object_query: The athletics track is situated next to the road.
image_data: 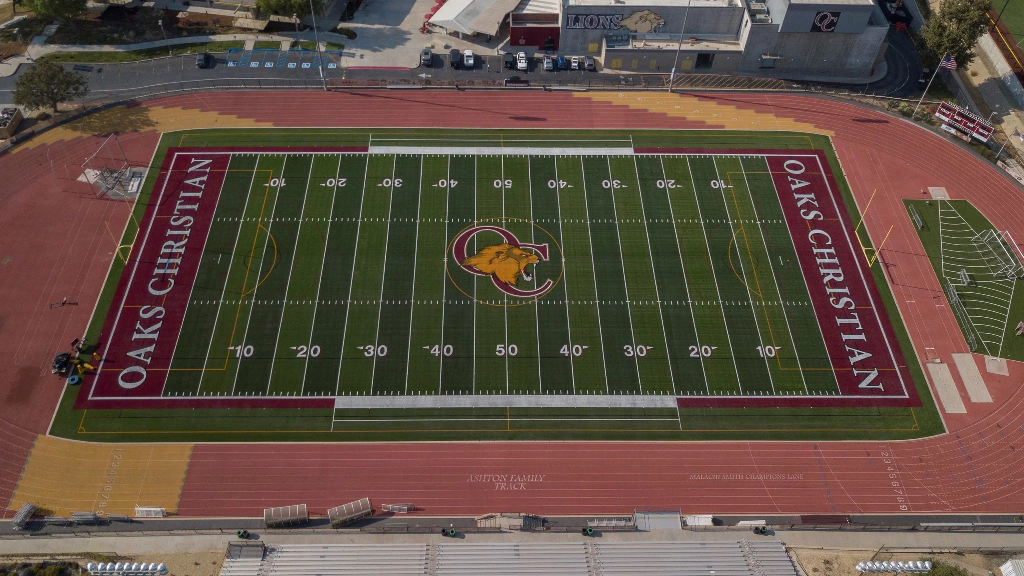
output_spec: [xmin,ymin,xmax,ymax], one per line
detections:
[0,89,1024,520]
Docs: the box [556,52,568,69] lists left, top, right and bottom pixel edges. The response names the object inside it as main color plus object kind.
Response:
blue vehicle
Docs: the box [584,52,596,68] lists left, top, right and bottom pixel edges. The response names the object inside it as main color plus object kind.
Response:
gray vehicle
